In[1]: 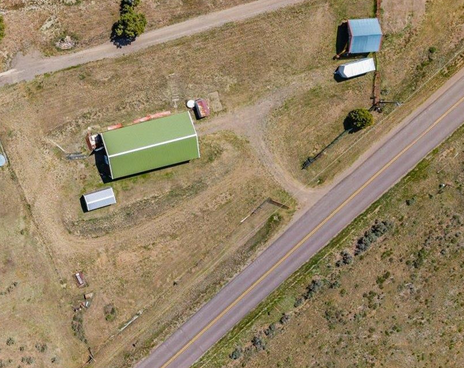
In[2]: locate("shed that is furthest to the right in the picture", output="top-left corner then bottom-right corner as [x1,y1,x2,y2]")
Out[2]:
[341,18,383,53]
